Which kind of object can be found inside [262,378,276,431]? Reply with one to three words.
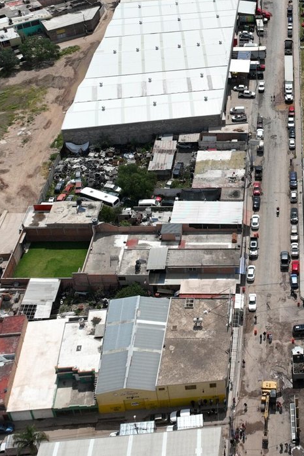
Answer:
work vehicle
